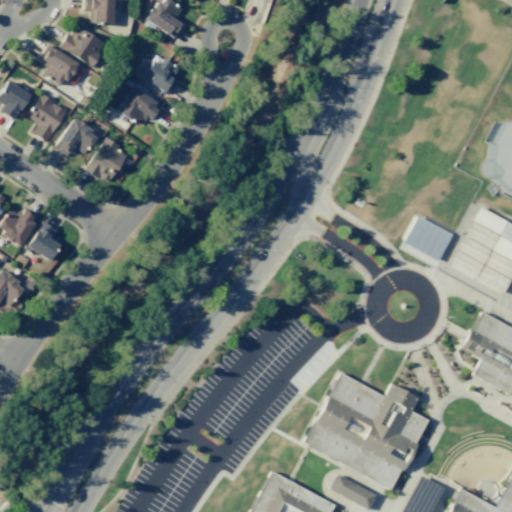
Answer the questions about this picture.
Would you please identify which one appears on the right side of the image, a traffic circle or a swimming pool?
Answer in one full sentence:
The feature located on the right side of the image is a traffic circle.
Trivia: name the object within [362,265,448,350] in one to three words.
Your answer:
roundabout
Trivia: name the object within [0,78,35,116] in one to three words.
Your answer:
house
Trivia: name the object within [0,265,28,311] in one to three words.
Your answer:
house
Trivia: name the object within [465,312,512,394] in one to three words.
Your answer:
building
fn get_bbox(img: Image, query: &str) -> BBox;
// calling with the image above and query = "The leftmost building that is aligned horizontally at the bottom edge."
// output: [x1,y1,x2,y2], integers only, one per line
[246,472,336,512]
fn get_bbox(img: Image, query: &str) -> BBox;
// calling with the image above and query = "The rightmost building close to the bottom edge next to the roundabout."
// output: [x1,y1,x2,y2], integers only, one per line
[306,372,430,488]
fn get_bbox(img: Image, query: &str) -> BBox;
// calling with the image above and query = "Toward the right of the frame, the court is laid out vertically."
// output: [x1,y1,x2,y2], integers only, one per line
[480,122,512,190]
